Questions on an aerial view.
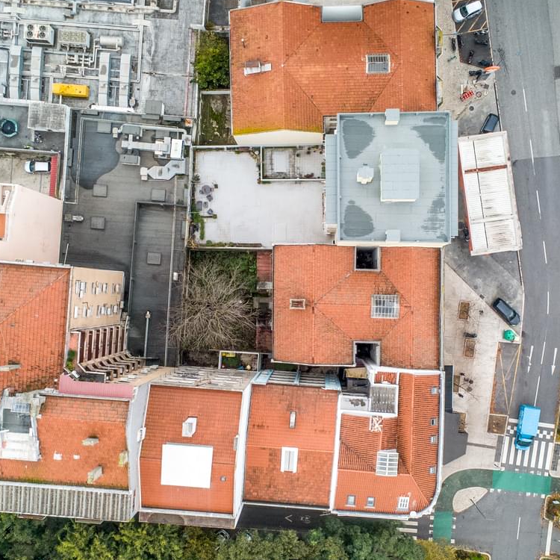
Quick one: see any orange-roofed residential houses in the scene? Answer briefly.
Yes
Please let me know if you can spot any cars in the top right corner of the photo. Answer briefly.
Yes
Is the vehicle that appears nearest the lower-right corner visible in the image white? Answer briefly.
No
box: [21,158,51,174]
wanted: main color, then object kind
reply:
white car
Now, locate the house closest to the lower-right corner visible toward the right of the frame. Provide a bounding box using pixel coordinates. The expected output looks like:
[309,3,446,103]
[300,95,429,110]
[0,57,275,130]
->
[335,363,468,518]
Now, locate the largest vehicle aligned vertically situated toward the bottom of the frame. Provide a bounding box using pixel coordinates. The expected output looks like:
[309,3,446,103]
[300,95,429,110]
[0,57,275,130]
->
[518,405,542,450]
